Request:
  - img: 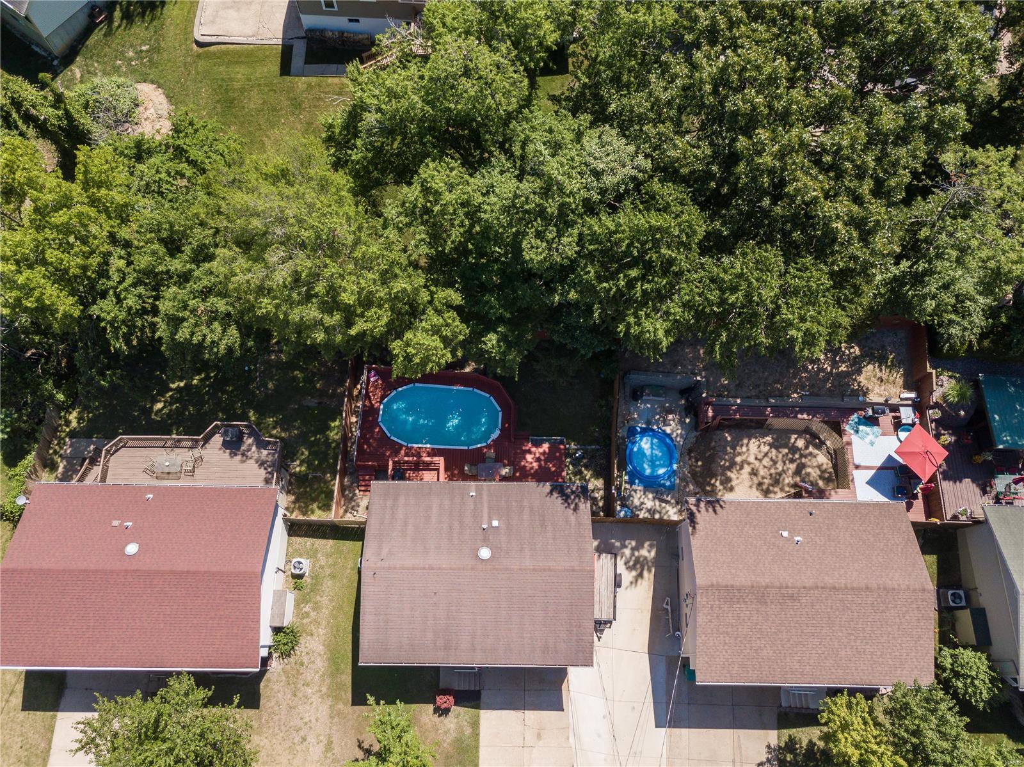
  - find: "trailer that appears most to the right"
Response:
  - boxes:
[592,553,621,646]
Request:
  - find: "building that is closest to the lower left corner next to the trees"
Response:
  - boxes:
[0,483,297,673]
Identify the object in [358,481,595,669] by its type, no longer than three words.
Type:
house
